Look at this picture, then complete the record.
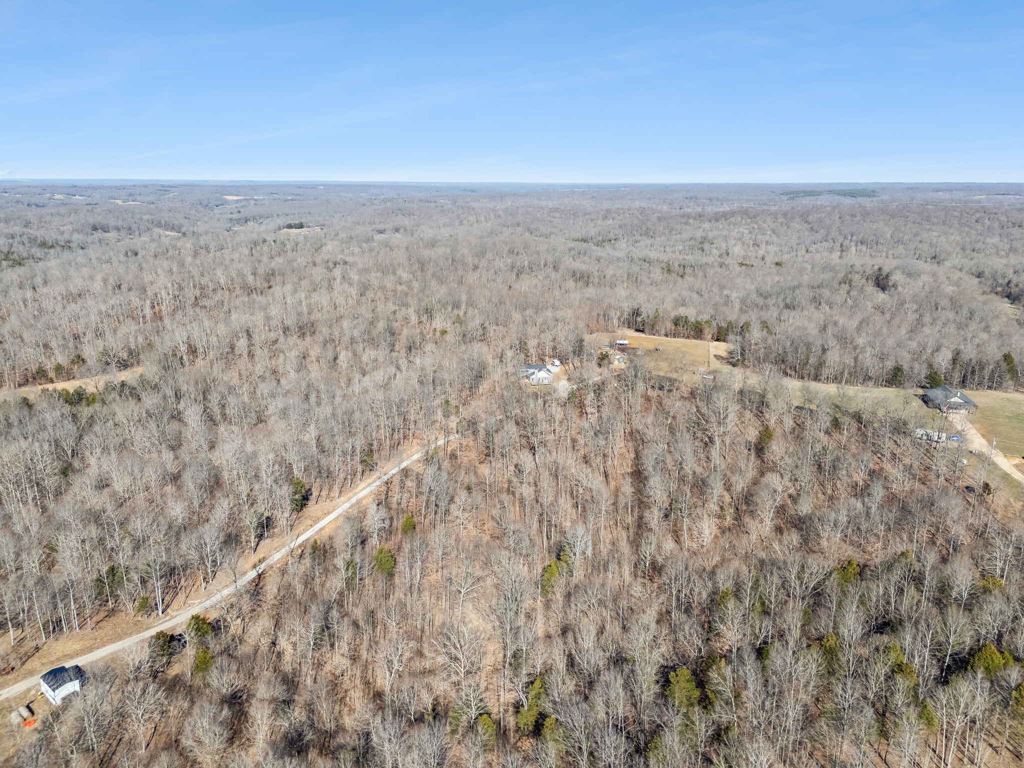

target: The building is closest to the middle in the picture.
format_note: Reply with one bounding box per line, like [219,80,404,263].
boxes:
[513,362,554,386]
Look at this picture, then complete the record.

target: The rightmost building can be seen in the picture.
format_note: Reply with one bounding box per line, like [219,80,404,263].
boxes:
[922,386,980,416]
